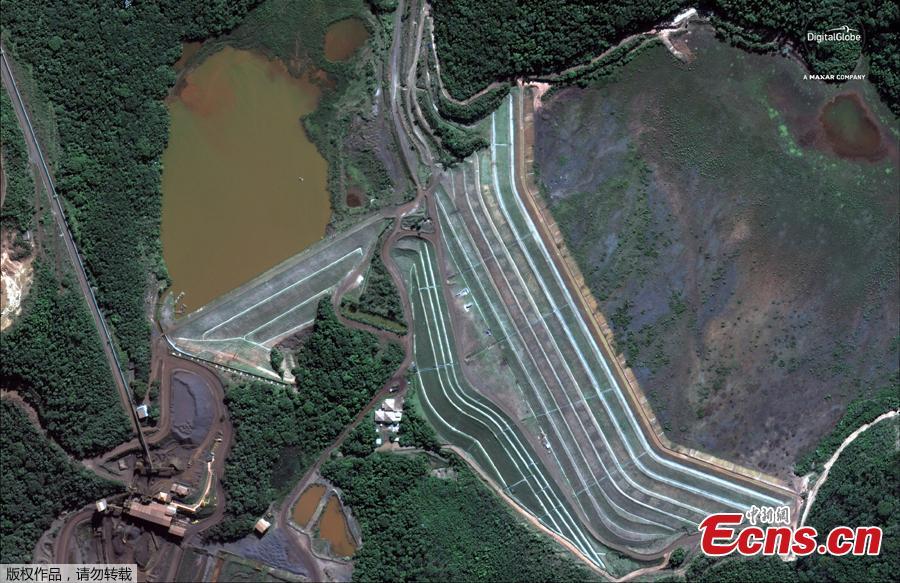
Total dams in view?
two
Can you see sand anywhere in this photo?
Yes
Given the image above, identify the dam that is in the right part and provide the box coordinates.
[435,80,804,555]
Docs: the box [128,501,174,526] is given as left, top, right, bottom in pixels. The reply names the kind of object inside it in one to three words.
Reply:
building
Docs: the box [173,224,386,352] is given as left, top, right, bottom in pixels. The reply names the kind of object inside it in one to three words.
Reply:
dam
